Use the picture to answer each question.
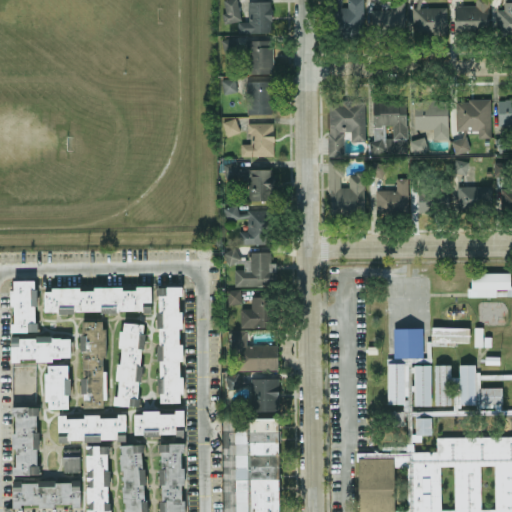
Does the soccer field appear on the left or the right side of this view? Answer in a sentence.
It is on the left.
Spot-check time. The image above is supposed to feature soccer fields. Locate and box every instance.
[0,0,215,248]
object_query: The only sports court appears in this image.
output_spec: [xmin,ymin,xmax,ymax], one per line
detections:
[479,302,508,327]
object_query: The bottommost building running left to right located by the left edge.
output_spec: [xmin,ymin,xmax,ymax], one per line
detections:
[12,481,81,510]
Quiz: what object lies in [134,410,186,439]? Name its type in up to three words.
building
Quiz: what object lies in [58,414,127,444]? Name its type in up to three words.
building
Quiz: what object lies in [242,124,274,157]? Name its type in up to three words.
house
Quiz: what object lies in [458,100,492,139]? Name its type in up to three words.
house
